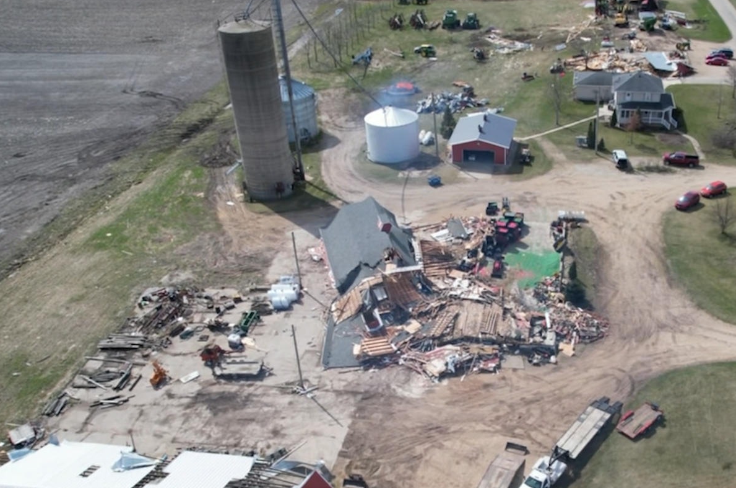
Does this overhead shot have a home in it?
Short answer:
Yes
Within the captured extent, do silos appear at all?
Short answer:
Yes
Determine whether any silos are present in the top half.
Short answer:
Yes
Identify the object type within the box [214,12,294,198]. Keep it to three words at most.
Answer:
silo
